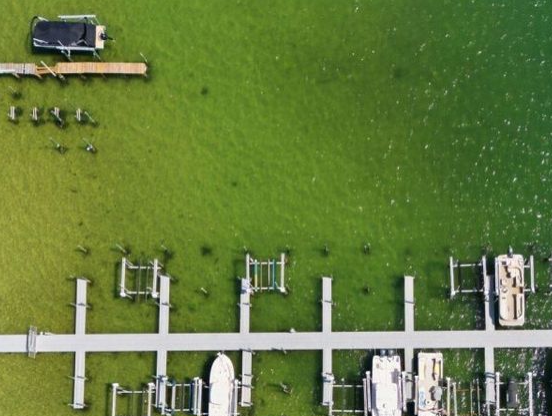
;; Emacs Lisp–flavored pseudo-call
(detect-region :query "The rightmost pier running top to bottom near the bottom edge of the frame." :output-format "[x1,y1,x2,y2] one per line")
[483,347,497,410]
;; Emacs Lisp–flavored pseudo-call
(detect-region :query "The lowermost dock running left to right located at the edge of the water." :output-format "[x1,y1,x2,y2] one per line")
[0,328,552,354]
